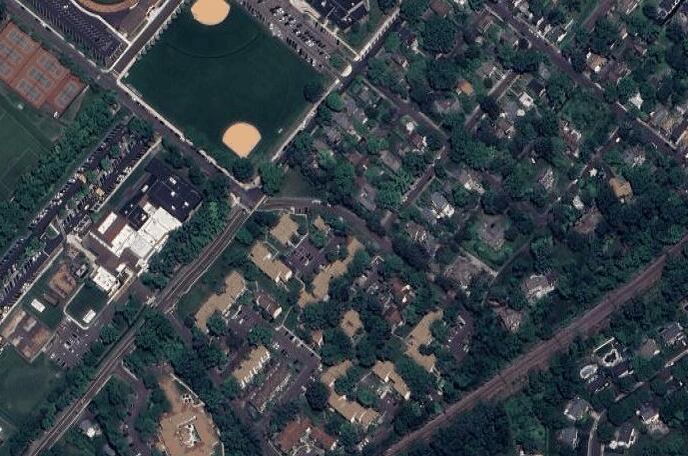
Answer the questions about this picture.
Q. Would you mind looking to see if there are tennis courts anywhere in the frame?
Yes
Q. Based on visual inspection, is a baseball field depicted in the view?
Yes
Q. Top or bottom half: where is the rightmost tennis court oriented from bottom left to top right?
top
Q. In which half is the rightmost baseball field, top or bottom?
top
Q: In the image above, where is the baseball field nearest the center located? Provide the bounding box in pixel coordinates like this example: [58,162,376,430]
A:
[223,121,261,157]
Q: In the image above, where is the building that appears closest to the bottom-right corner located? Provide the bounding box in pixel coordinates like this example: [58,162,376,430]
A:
[647,418,672,436]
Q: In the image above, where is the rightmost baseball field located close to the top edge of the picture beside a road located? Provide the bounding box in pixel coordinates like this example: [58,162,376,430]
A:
[191,0,230,25]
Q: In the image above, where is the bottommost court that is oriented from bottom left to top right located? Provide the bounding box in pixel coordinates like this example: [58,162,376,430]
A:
[41,70,89,123]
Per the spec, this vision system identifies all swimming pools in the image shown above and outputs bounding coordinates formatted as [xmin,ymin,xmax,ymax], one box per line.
[605,351,619,365]
[584,365,597,377]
